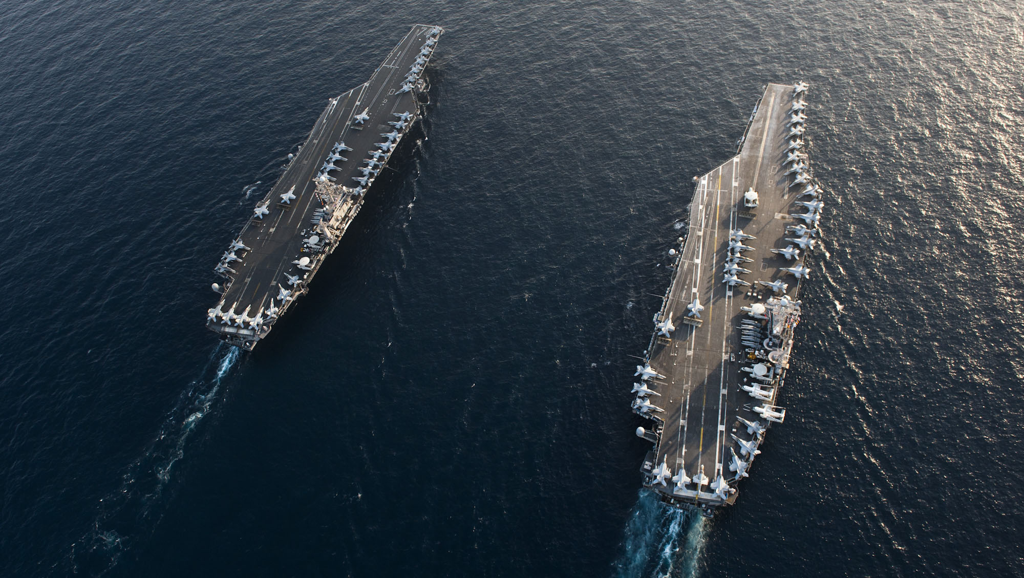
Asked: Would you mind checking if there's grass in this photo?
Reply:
No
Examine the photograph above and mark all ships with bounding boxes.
[627,83,824,531]
[204,24,443,359]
